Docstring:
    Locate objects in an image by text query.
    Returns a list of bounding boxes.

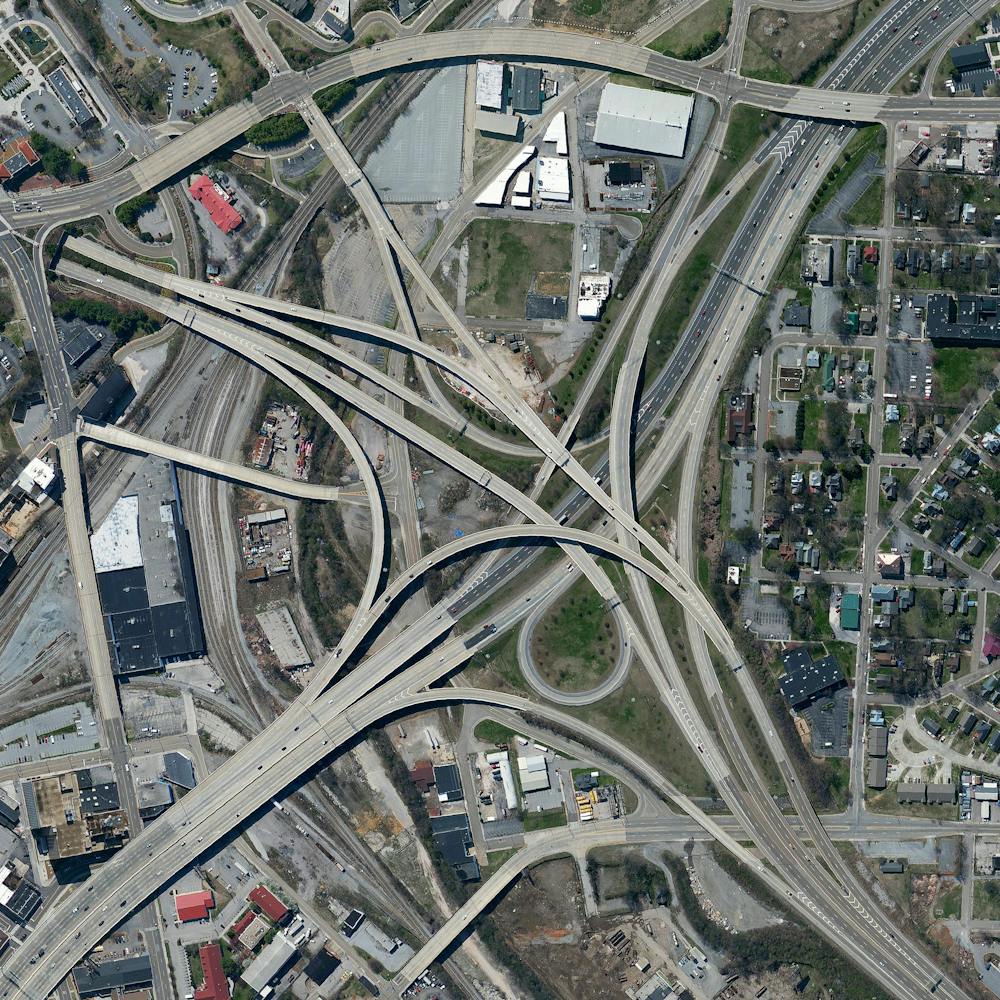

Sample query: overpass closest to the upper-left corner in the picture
[133,96,270,189]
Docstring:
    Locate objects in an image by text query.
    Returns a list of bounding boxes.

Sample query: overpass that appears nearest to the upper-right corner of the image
[791,88,885,122]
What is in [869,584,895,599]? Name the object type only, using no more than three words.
house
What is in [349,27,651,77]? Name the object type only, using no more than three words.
overpass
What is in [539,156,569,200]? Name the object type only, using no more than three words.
building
